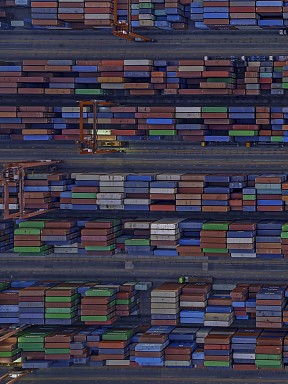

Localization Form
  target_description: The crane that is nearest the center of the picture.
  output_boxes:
[73,101,124,156]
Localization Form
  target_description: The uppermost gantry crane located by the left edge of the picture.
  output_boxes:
[0,161,57,220]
